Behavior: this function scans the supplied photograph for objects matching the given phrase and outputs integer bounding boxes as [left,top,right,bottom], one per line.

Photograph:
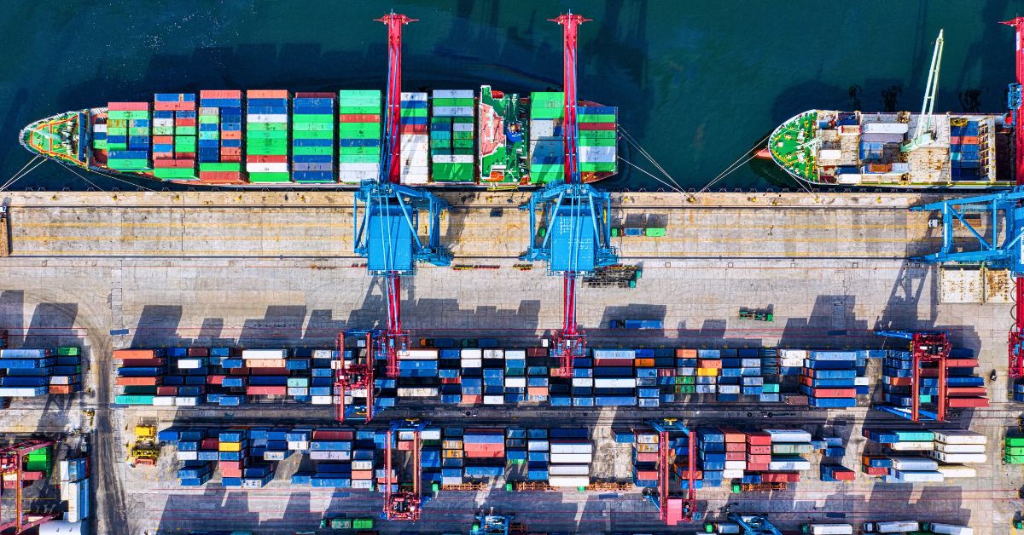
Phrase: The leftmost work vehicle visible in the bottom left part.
[132,427,161,466]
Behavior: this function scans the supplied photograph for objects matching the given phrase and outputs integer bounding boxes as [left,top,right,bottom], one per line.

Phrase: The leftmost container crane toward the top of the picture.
[347,2,459,377]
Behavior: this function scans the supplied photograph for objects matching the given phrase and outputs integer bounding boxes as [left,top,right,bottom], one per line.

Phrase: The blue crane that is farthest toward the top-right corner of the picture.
[899,13,1024,377]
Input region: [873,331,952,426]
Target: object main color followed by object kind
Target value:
red container crane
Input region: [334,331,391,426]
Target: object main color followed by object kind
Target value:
red container crane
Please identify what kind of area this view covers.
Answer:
port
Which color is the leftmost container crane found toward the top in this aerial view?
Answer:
blue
